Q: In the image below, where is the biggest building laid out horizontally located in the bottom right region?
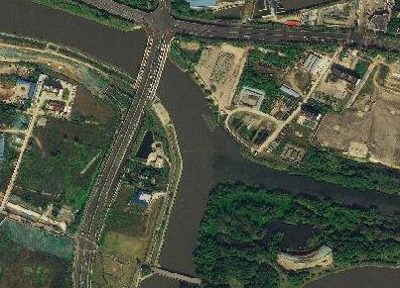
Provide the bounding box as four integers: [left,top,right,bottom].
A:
[273,241,331,265]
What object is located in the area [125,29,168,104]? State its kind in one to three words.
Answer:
bridge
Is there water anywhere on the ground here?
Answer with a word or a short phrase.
Yes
